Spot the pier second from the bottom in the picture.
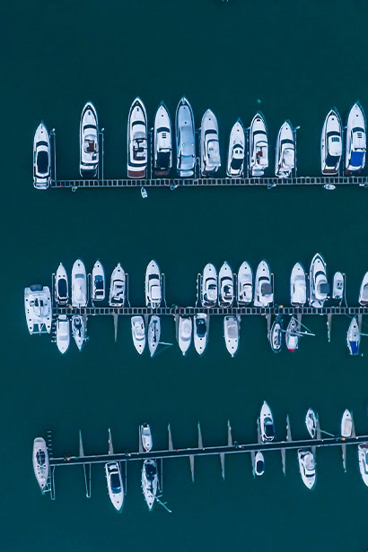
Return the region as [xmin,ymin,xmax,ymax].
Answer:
[50,273,368,342]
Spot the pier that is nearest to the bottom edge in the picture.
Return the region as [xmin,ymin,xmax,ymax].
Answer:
[49,412,368,499]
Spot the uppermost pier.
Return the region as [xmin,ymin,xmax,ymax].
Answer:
[50,124,368,187]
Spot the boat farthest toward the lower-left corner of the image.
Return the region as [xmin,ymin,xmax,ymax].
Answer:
[33,436,49,494]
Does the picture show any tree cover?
No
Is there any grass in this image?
No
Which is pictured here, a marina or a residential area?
marina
